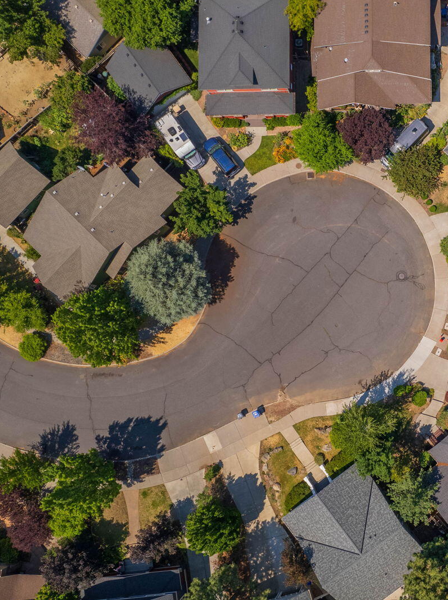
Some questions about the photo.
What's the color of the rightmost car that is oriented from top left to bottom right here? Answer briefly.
blue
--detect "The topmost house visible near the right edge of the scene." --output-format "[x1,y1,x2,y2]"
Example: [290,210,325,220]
[314,0,441,114]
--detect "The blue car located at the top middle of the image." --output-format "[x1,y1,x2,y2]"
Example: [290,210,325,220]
[203,136,241,180]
